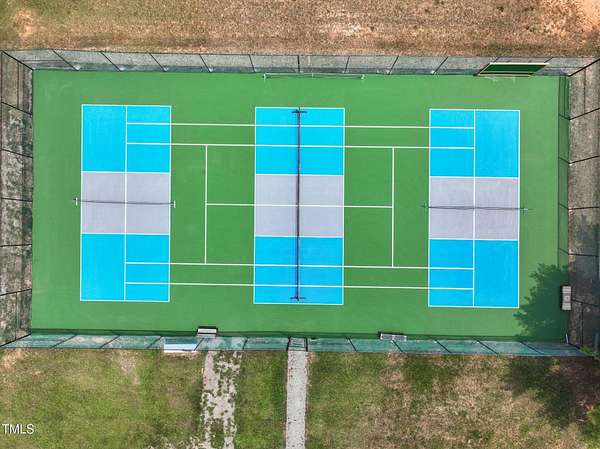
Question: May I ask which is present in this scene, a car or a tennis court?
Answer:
tennis court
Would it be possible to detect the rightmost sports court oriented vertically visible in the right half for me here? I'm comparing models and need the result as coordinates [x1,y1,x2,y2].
[428,108,521,307]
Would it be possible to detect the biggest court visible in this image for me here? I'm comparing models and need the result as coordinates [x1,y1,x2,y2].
[29,67,571,343]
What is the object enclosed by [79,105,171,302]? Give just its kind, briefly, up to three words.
sports court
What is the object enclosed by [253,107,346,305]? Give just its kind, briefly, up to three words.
sports court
